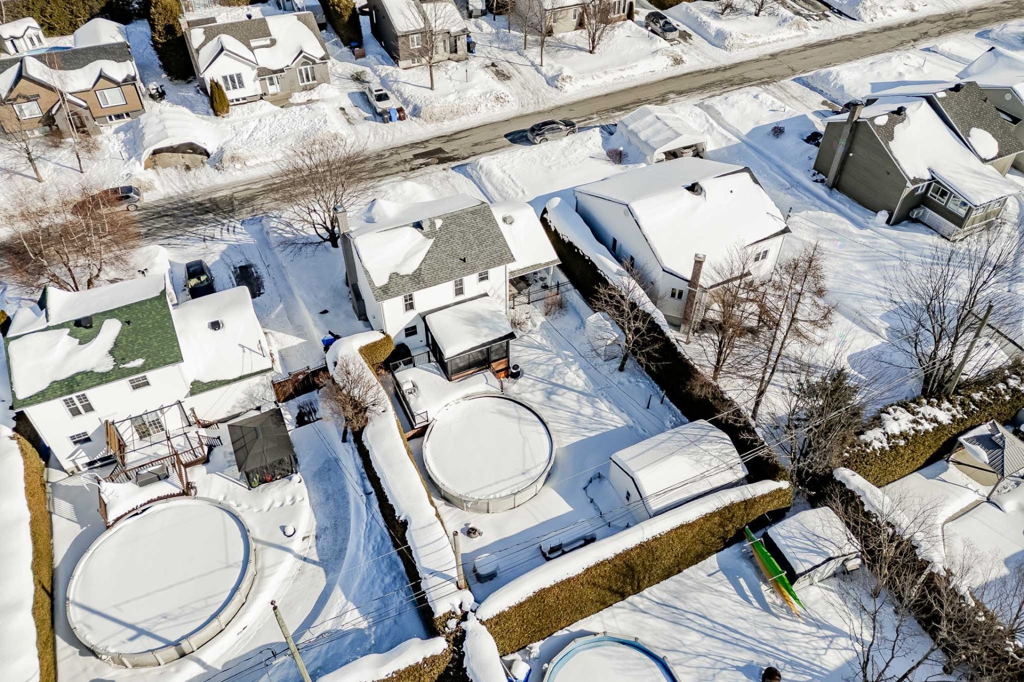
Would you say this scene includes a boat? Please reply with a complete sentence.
Yes, the picture does show a boat.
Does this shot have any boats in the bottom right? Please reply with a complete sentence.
Yes, a boat is visible in the bottom right.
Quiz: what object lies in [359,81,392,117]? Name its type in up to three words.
car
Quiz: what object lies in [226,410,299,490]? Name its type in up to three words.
gazebo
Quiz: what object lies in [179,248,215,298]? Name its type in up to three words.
car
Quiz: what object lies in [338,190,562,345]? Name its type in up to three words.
house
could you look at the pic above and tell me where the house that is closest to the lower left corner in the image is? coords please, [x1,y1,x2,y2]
[2,270,276,466]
